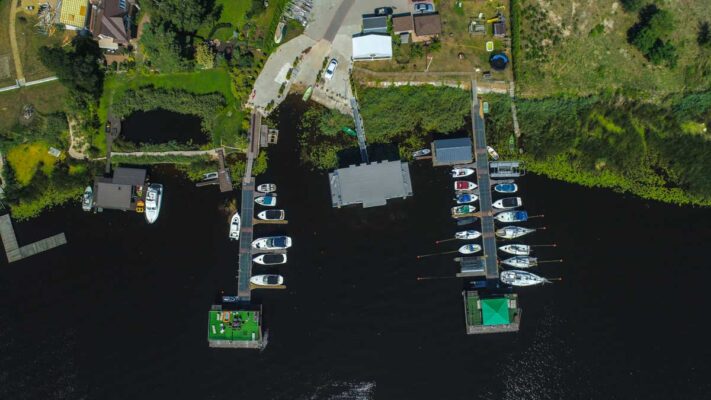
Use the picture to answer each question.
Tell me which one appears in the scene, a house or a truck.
house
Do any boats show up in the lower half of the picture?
Yes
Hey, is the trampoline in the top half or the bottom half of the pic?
top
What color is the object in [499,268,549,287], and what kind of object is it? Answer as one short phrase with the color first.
white boat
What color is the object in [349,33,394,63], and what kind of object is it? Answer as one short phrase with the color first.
white tent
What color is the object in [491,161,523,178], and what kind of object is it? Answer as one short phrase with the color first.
gray boat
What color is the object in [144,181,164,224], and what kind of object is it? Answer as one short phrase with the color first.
white boat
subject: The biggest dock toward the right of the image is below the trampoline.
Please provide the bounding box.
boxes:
[452,105,515,278]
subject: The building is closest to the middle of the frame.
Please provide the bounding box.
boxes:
[329,159,412,208]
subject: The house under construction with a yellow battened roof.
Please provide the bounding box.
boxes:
[53,0,95,33]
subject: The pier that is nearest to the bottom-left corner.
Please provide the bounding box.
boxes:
[0,214,67,262]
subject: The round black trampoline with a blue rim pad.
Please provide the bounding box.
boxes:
[490,50,512,70]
